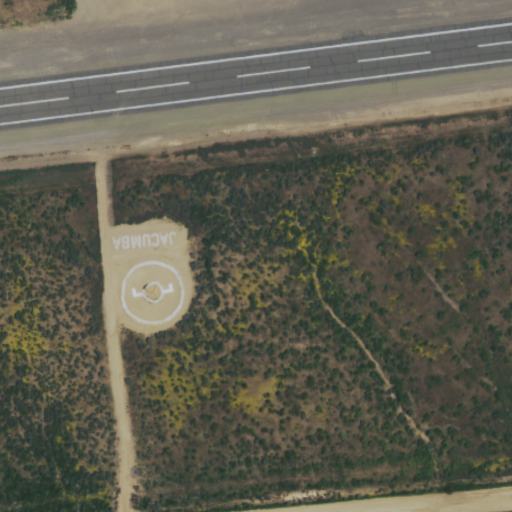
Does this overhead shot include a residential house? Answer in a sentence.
No, I can see no residential house in this picture.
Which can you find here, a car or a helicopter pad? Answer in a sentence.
This aerial view contains a helicopter pad.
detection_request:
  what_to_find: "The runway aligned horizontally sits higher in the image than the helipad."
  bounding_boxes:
[0,18,512,130]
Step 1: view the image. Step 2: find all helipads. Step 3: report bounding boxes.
[105,217,194,335]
